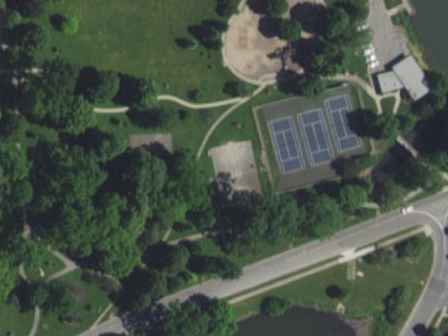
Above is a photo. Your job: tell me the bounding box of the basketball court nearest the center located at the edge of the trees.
[210,141,261,204]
